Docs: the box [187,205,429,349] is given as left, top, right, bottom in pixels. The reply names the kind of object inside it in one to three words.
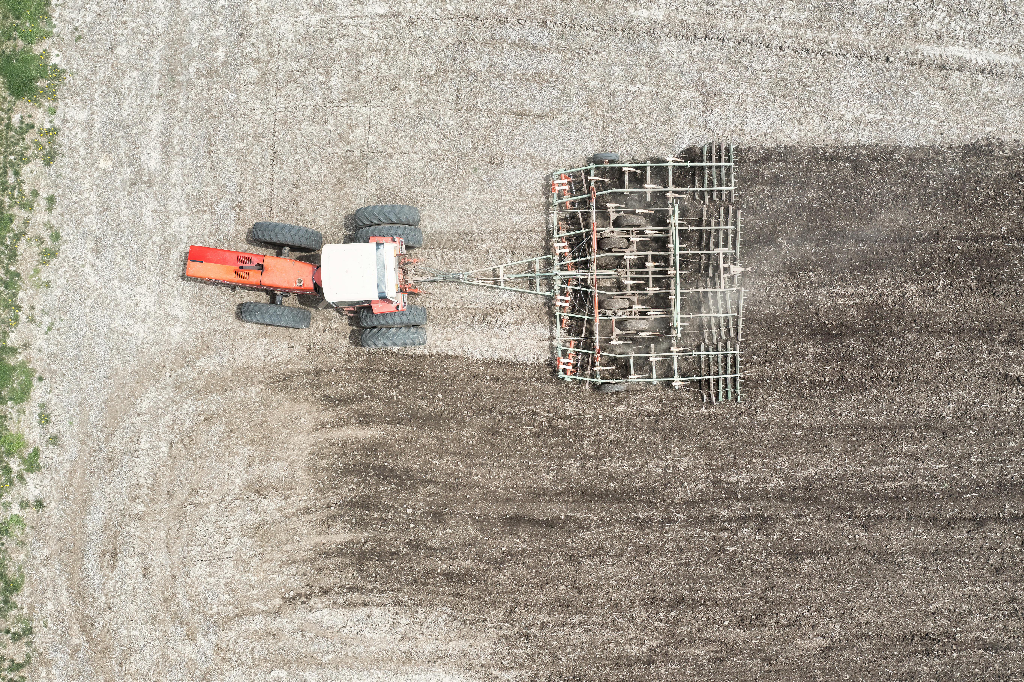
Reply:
work vehicle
